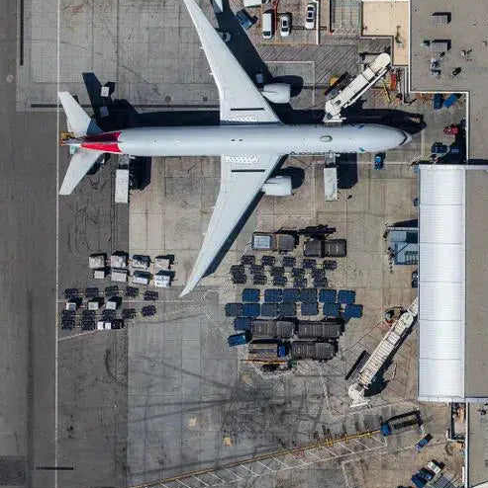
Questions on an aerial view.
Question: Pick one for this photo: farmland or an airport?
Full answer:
It's an airport.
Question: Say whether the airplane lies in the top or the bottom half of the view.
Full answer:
Seen from above, the airplane lies in the top half of the view.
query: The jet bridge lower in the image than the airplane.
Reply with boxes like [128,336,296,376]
[345,296,418,410]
